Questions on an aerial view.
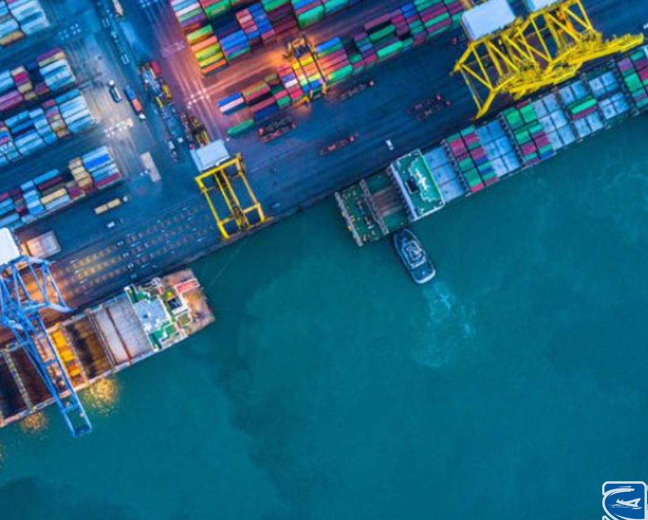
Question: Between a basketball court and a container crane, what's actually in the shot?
container crane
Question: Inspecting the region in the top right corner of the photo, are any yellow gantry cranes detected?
Yes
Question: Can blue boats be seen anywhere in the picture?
Yes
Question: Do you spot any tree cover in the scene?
No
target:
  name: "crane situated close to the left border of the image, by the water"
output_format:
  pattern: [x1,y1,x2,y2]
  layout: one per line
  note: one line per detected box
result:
[0,226,97,444]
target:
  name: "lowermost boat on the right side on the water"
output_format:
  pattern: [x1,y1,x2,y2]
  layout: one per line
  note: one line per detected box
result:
[397,230,435,286]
